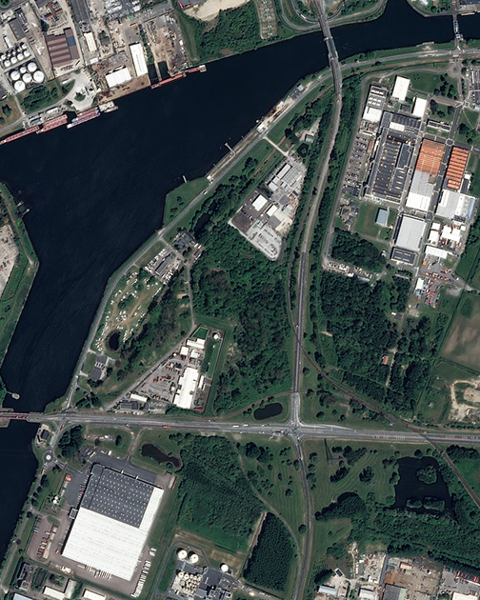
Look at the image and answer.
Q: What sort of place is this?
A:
port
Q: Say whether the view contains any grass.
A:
Yes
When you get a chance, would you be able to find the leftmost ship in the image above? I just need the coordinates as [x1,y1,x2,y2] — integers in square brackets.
[0,126,40,144]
